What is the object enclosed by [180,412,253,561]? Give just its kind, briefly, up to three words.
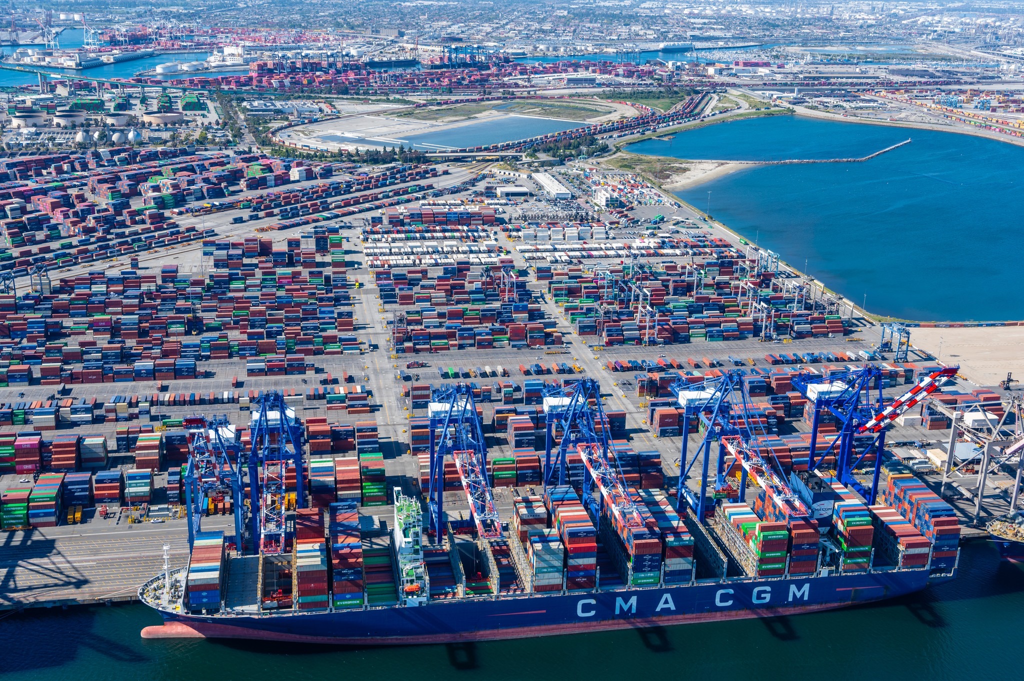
container crane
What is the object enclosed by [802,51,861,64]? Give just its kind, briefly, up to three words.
ship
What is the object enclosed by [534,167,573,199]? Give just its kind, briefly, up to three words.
building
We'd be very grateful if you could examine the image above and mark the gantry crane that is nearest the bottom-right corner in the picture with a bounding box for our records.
[932,394,1024,532]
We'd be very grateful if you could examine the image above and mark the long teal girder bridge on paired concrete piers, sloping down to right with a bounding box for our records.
[0,64,287,98]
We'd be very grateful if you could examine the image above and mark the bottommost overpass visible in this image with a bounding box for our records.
[403,150,566,171]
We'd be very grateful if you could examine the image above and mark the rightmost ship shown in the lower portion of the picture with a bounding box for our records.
[961,513,1024,565]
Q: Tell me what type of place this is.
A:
port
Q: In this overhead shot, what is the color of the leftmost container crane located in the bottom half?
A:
blue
